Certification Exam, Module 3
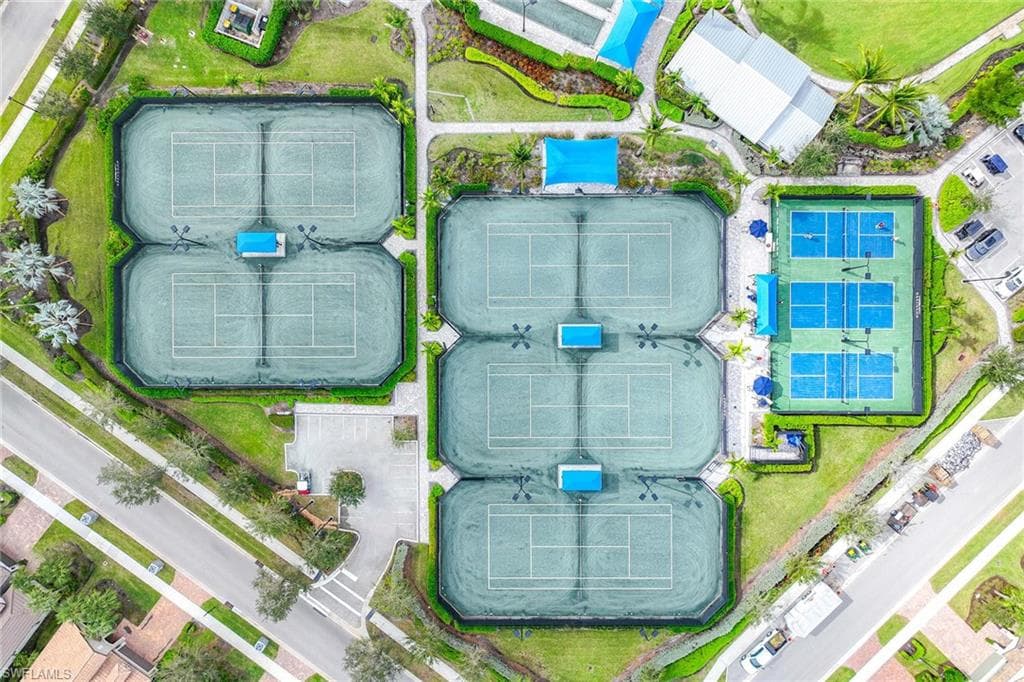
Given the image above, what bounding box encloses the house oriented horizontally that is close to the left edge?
[18,622,158,682]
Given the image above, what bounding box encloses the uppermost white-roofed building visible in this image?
[665,10,837,165]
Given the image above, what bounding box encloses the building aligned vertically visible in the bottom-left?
[0,552,52,677]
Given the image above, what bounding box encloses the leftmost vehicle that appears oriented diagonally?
[745,632,791,674]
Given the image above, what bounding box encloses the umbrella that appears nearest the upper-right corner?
[747,219,767,239]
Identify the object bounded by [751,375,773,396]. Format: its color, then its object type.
blue umbrella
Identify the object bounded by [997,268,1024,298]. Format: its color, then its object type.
white car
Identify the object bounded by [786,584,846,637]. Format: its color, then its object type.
white trailer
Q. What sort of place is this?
sports ground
